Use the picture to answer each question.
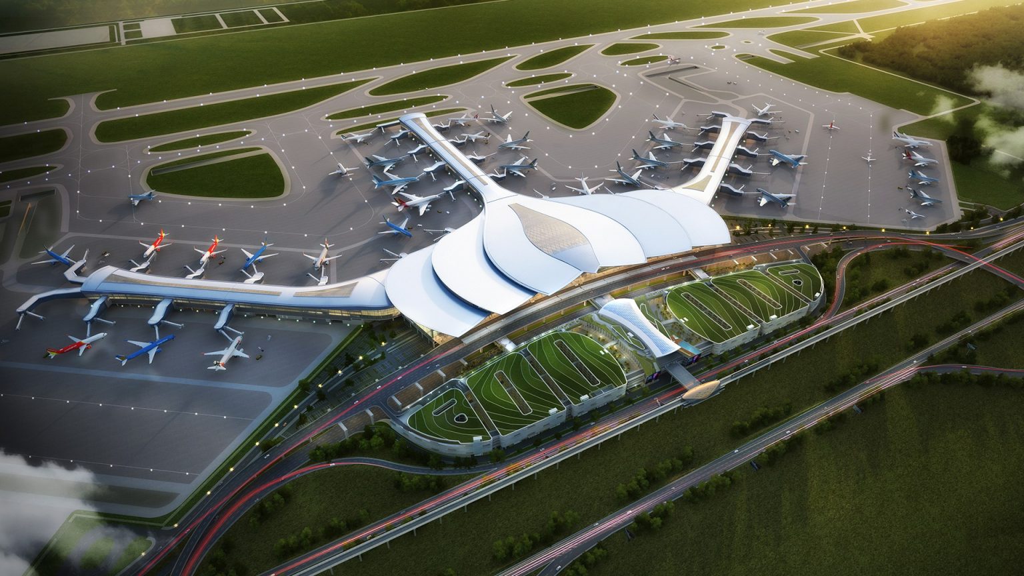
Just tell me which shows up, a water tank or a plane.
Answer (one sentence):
Visible in the photo is a plane.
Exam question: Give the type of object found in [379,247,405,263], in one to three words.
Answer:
jet bridge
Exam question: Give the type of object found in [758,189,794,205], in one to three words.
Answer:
airplane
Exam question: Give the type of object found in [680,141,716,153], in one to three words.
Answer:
jet bridge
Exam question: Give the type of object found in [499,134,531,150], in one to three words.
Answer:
airplane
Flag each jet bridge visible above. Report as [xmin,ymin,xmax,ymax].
[748,116,787,127]
[666,157,707,172]
[379,247,405,263]
[182,257,210,281]
[680,141,716,153]
[532,188,548,198]
[398,144,431,163]
[638,179,669,190]
[727,163,772,178]
[735,146,774,159]
[151,301,186,342]
[435,180,467,203]
[696,111,730,120]
[486,167,506,182]
[383,130,414,147]
[238,261,267,285]
[62,247,90,286]
[684,125,722,136]
[15,288,85,331]
[719,183,763,198]
[84,298,118,339]
[127,250,158,275]
[415,161,448,182]
[467,150,498,164]
[432,119,451,132]
[305,264,330,286]
[447,134,468,147]
[215,306,246,344]
[368,121,401,134]
[743,131,781,144]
